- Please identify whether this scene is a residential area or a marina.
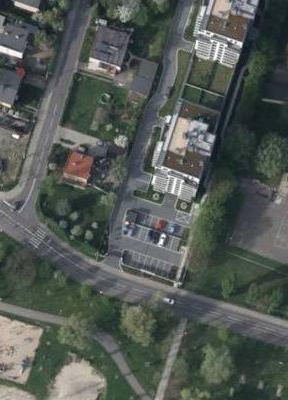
residential area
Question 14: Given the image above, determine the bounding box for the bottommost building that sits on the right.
[153,99,225,202]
